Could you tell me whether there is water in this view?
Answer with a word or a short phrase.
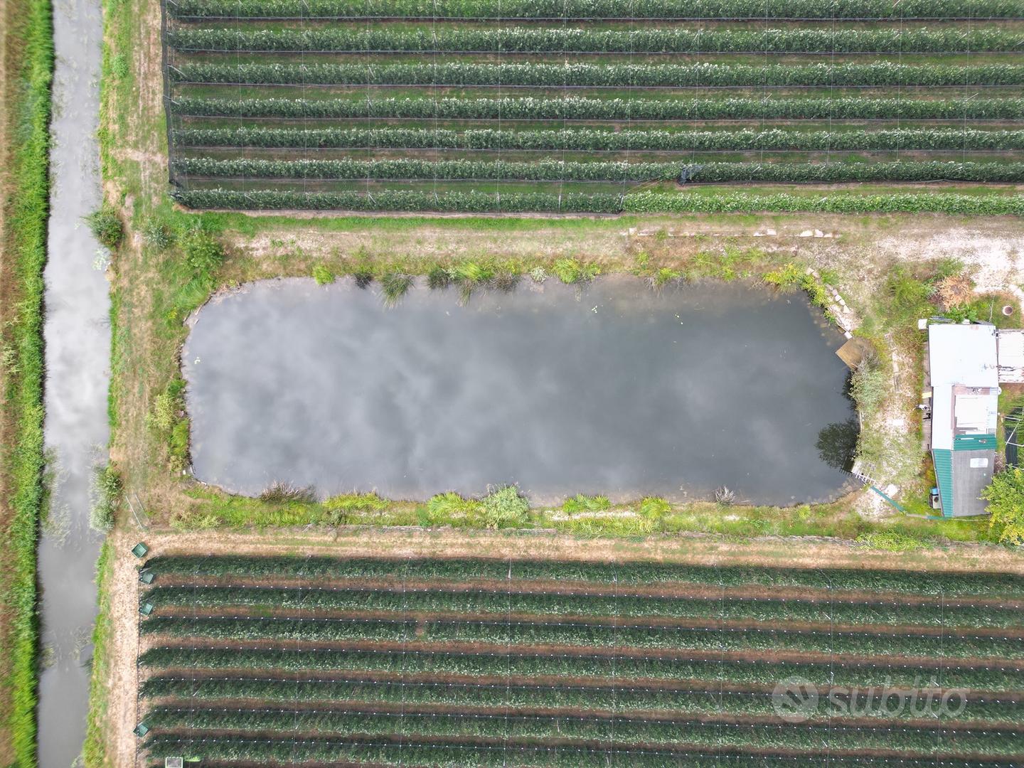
Yes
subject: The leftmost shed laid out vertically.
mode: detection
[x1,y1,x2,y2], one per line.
[918,320,1003,518]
